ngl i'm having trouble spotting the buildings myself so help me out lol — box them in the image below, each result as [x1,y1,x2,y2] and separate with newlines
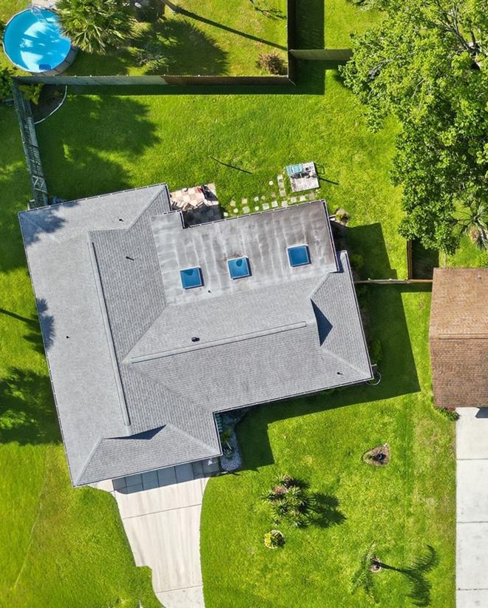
[427,268,488,408]
[17,181,375,490]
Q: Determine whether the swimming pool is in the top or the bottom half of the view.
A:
top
